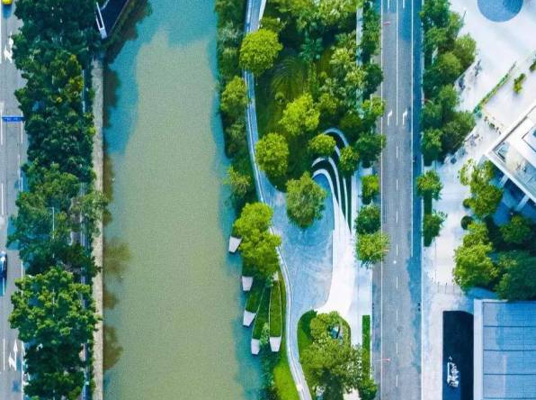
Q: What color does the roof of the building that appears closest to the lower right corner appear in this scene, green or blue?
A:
blue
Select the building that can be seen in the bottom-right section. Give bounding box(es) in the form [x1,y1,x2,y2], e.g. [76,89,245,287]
[475,301,536,400]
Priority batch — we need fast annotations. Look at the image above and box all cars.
[0,252,7,279]
[1,0,12,13]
